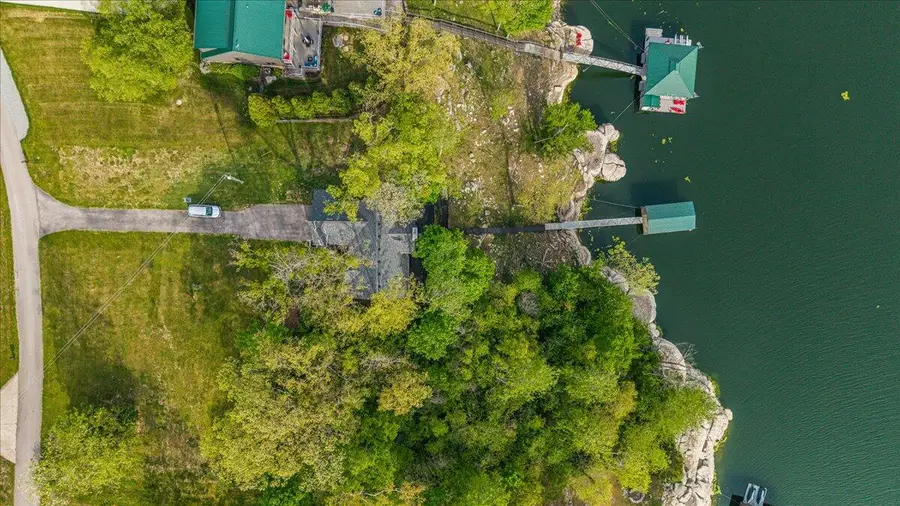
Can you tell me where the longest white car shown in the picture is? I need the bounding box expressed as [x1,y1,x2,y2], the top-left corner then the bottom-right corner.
[186,203,220,219]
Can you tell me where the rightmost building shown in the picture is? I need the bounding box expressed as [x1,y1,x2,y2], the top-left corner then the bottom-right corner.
[640,201,696,235]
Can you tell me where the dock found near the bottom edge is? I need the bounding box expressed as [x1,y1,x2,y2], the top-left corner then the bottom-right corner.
[731,483,780,506]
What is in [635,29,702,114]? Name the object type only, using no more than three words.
pier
